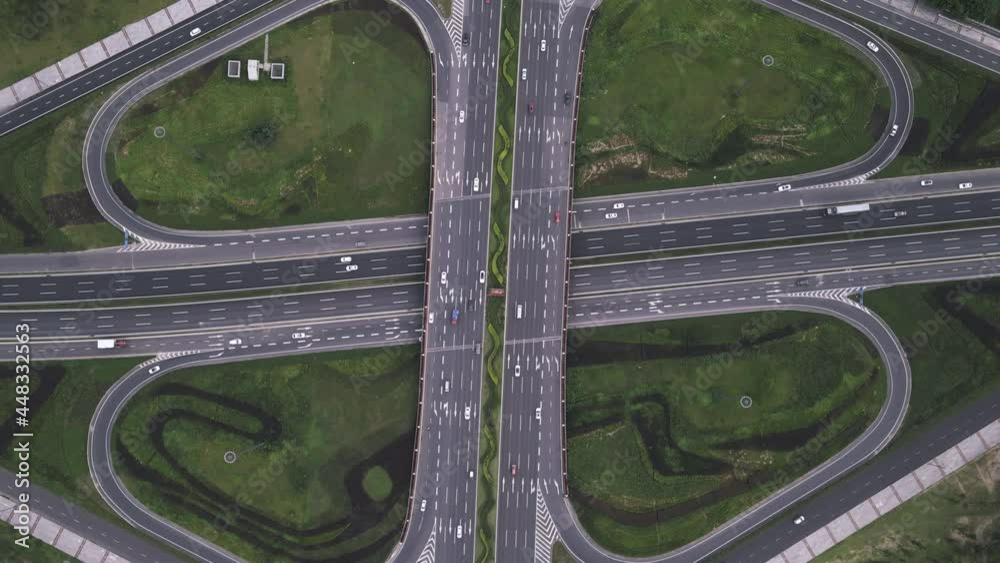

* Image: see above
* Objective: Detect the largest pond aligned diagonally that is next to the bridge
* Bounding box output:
[341,429,416,532]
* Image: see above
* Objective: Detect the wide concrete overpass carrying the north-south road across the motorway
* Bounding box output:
[399,8,595,563]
